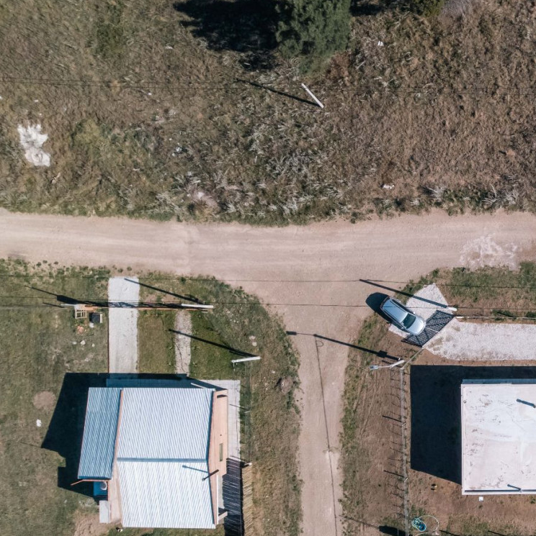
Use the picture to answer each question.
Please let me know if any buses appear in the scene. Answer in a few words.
No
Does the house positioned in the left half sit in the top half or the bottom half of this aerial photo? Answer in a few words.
bottom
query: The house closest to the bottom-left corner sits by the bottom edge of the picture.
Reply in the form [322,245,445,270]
[66,380,241,533]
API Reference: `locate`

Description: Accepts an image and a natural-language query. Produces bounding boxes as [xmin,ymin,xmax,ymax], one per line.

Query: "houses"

[462,377,536,494]
[66,380,241,533]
